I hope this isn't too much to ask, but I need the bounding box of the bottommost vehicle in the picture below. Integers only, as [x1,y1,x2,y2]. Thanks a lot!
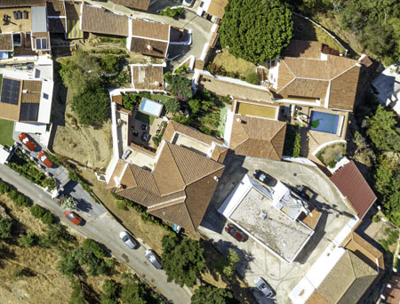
[256,277,272,296]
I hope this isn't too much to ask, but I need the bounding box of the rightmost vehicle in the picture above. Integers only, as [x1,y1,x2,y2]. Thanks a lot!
[295,184,314,202]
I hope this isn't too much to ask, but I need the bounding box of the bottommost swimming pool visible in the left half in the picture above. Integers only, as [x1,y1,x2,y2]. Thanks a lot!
[138,98,165,120]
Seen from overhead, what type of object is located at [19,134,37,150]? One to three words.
car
